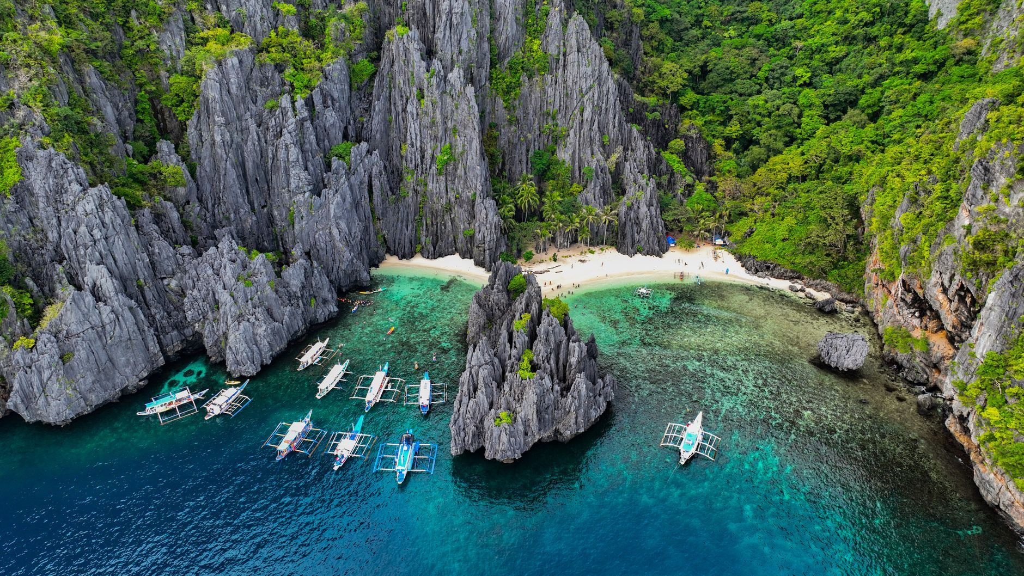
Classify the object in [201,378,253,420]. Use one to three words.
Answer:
boat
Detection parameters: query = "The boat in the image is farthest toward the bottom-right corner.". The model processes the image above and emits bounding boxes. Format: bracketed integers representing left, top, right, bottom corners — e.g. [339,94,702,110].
[660,411,721,468]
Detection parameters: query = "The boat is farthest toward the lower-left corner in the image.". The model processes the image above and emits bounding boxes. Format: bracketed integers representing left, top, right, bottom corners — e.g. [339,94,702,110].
[136,385,209,424]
